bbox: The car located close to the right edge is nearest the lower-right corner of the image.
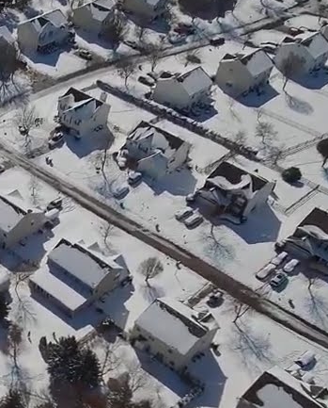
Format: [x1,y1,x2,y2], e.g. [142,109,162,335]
[294,350,314,368]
